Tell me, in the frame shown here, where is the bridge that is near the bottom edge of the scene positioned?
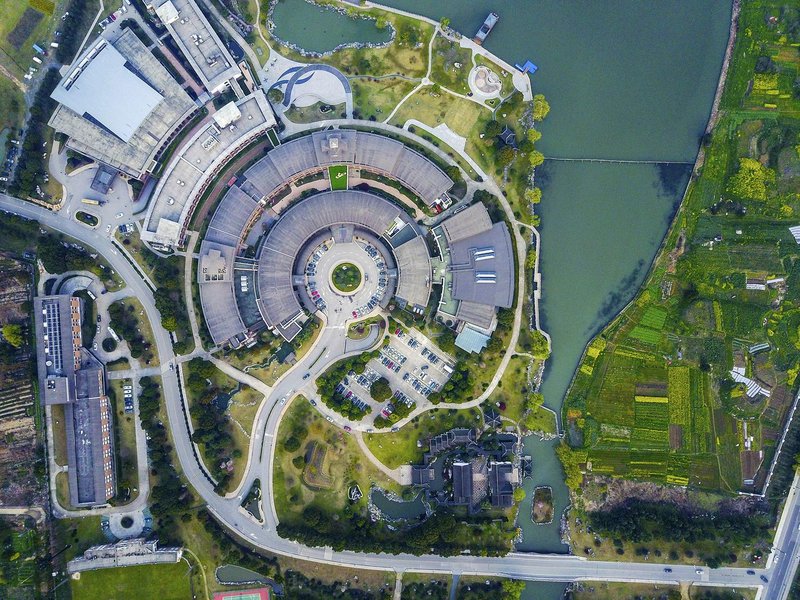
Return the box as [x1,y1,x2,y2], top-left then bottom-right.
[499,555,589,584]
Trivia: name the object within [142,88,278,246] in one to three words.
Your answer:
building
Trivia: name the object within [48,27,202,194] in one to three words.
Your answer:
building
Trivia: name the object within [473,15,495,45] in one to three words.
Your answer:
boat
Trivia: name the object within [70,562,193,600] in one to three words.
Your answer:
soccer field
